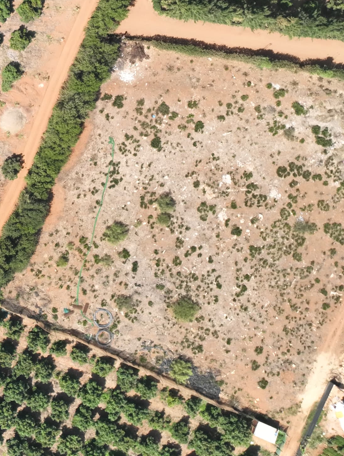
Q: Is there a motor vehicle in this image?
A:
No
